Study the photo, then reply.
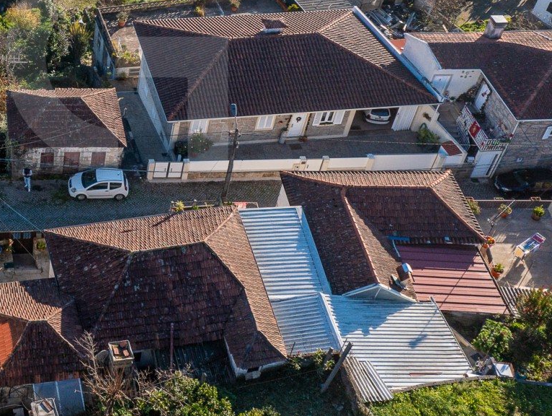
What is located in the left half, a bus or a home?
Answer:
home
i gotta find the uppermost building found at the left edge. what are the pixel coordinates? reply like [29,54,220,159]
[6,86,128,175]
